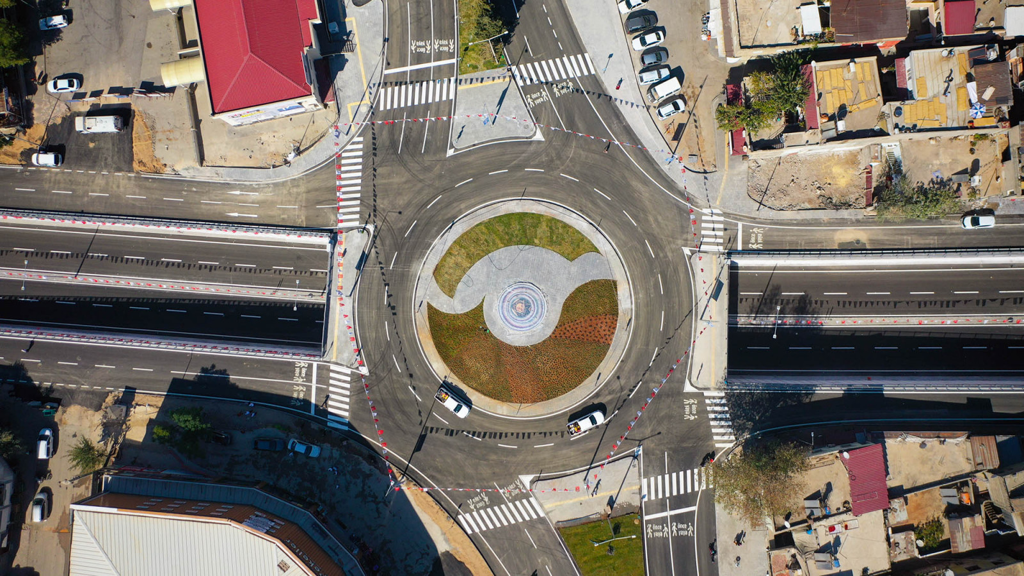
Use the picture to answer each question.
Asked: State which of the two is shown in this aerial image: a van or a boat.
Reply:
van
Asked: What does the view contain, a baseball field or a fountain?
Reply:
fountain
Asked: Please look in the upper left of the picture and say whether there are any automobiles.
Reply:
Yes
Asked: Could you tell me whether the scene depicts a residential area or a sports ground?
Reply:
residential area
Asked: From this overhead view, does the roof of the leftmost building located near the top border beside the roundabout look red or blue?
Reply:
red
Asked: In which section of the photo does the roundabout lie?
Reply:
center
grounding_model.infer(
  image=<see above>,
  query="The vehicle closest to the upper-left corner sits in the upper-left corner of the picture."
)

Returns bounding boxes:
[41,16,72,33]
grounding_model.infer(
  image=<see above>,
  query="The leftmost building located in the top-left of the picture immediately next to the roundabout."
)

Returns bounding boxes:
[189,0,330,126]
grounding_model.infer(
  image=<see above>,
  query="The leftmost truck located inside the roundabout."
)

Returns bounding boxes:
[435,387,473,416]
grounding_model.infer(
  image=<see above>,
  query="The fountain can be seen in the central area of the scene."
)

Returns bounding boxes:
[498,283,547,331]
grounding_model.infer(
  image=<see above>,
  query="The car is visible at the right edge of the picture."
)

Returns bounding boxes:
[958,212,995,230]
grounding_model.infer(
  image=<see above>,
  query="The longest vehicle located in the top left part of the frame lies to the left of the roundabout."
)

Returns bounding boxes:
[80,117,129,136]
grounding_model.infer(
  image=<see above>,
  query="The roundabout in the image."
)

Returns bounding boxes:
[320,53,742,541]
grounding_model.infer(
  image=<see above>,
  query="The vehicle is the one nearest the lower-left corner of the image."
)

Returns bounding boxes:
[33,489,52,520]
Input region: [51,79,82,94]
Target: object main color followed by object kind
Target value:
white car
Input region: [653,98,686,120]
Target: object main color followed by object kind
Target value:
white car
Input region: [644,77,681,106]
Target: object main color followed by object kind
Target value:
white van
